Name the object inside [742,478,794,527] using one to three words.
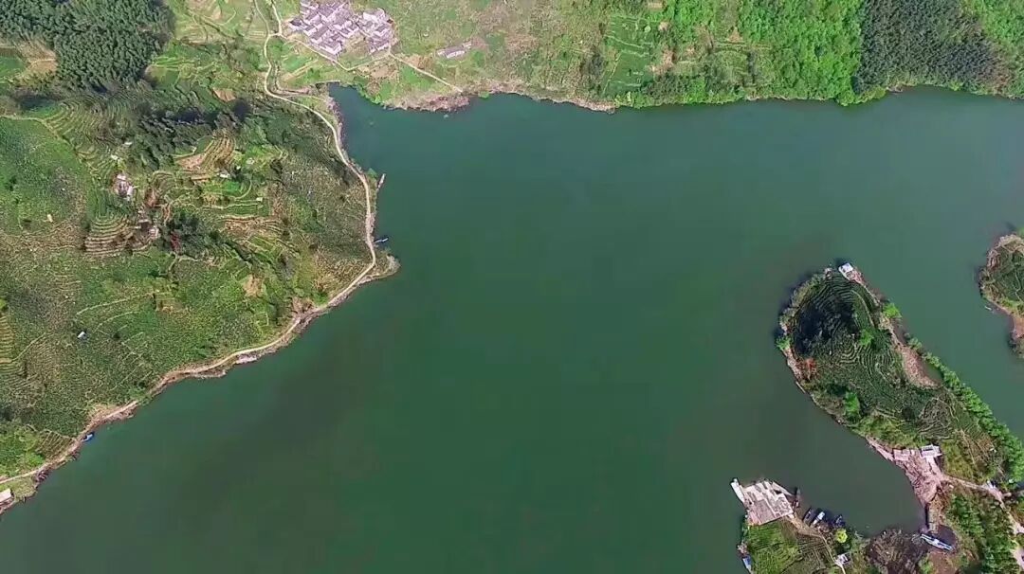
pier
